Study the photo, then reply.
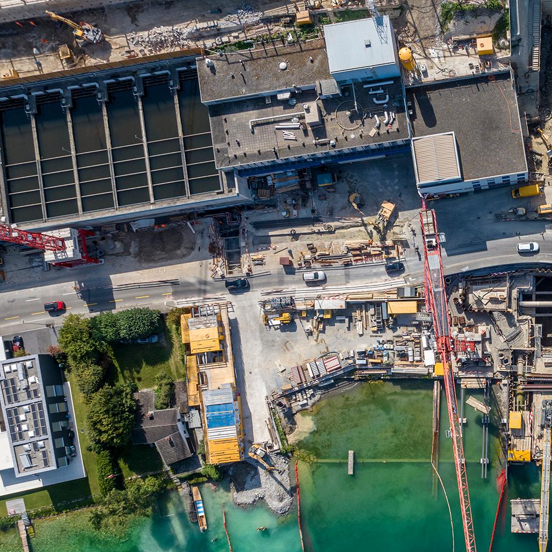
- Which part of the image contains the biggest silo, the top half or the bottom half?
top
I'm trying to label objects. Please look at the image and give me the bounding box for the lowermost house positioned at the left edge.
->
[0,355,87,496]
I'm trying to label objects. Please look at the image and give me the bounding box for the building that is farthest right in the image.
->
[405,75,527,204]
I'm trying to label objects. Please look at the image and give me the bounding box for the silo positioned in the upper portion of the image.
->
[399,47,421,81]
